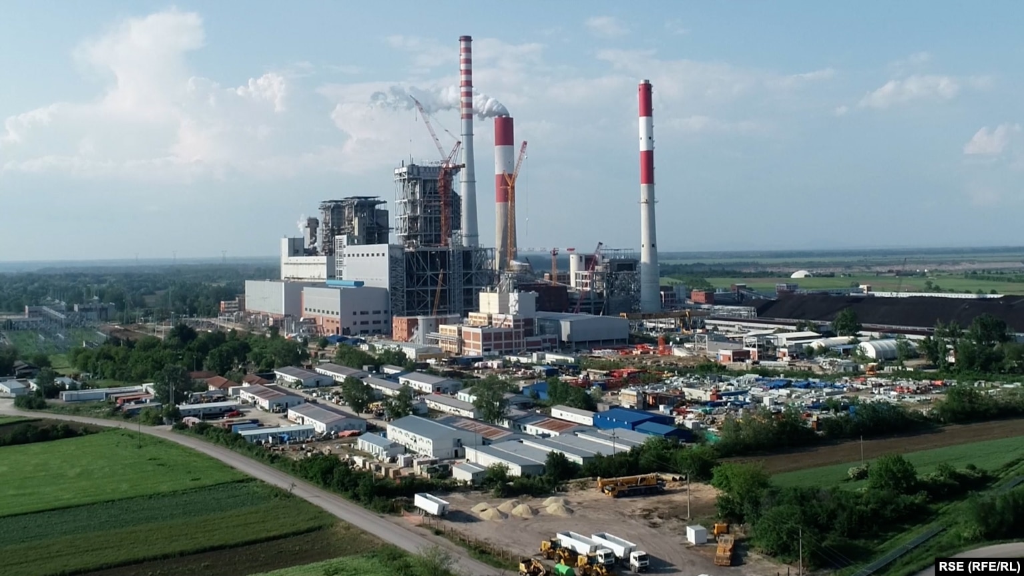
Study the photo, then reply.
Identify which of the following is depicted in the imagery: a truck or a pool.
truck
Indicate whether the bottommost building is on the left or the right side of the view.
right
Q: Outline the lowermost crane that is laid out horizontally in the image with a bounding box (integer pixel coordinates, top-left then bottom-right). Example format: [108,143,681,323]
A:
[598,472,667,498]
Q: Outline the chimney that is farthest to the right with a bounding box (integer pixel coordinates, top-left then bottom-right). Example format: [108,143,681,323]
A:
[640,79,661,312]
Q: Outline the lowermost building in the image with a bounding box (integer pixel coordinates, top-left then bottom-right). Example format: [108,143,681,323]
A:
[686,524,707,544]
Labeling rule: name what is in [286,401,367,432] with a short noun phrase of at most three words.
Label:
building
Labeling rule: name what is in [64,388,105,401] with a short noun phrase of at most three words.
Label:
shed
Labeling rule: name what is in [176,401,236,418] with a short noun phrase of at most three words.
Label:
shed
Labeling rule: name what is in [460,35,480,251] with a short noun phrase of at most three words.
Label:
chimney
